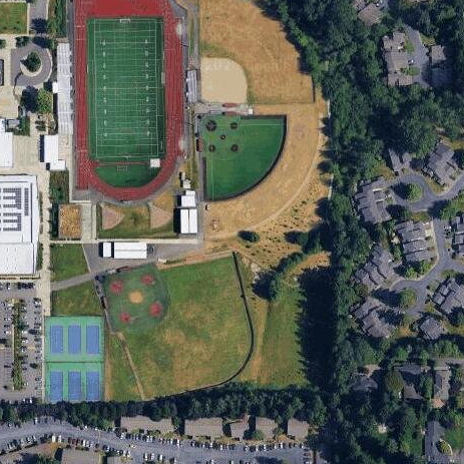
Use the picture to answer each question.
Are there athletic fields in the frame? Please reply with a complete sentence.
Yes, there's an athletic field here.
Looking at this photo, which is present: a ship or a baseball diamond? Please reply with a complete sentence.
The image shows a baseball diamond.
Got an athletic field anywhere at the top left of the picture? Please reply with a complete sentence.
Yes, at the top left of the picture there is an athletic field.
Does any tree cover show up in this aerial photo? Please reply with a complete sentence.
Yes, tree cover can be seen from above here.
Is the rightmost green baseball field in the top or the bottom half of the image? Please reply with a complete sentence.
You can find the rightmost green baseball field in the top half.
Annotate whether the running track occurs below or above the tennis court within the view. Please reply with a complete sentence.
Relative to the tennis court, the running track lies above it.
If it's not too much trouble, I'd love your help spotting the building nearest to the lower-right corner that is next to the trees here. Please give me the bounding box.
[425,421,454,461]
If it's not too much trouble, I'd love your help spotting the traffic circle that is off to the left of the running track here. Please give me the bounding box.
[12,40,51,86]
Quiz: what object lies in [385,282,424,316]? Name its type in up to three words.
roundabout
